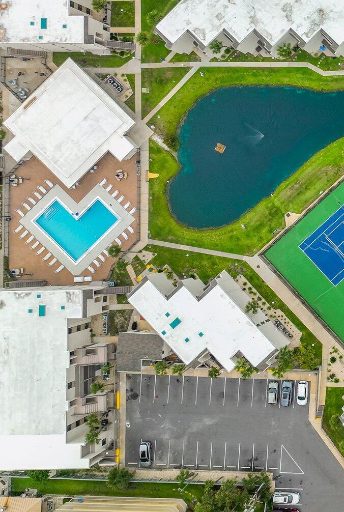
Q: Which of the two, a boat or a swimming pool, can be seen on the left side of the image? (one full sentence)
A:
What appears on the left side of the image is a swimming pool.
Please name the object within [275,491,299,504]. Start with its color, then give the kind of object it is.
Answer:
white vehicle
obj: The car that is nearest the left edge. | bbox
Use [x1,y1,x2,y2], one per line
[139,441,153,465]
